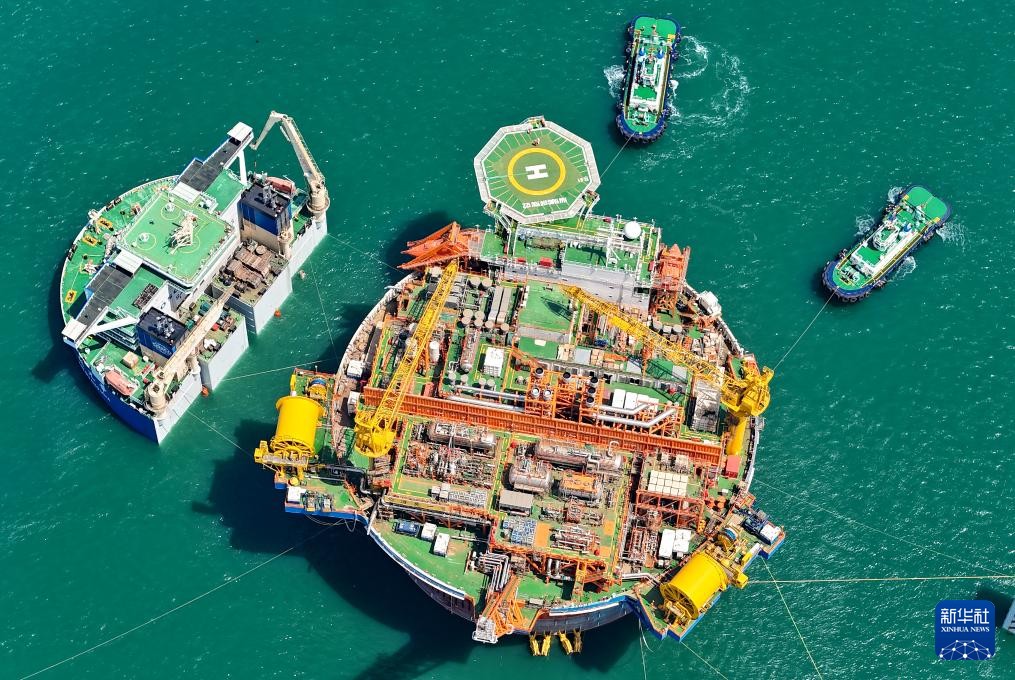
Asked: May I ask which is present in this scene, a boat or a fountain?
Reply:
boat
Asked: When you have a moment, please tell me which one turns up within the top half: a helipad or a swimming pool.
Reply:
helipad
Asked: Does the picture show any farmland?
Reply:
No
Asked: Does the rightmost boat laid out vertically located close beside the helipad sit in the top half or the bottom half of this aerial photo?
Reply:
top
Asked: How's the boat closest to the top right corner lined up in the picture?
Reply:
diagonally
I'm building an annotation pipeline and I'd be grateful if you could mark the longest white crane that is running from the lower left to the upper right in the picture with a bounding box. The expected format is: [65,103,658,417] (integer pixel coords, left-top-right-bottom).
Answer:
[143,287,245,408]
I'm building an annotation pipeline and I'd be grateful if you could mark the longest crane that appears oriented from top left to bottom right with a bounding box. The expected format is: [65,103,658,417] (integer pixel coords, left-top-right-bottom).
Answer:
[558,282,779,458]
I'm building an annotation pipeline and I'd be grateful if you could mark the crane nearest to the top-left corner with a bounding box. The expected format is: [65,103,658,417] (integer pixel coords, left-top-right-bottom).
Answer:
[251,107,330,216]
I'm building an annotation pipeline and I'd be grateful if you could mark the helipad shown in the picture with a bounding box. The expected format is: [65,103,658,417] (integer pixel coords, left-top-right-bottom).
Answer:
[474,112,604,239]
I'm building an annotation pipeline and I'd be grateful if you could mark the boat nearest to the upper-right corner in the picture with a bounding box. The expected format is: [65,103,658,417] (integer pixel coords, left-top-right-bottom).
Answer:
[823,186,956,305]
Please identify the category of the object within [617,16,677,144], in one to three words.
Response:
boat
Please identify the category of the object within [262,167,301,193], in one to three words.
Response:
boat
